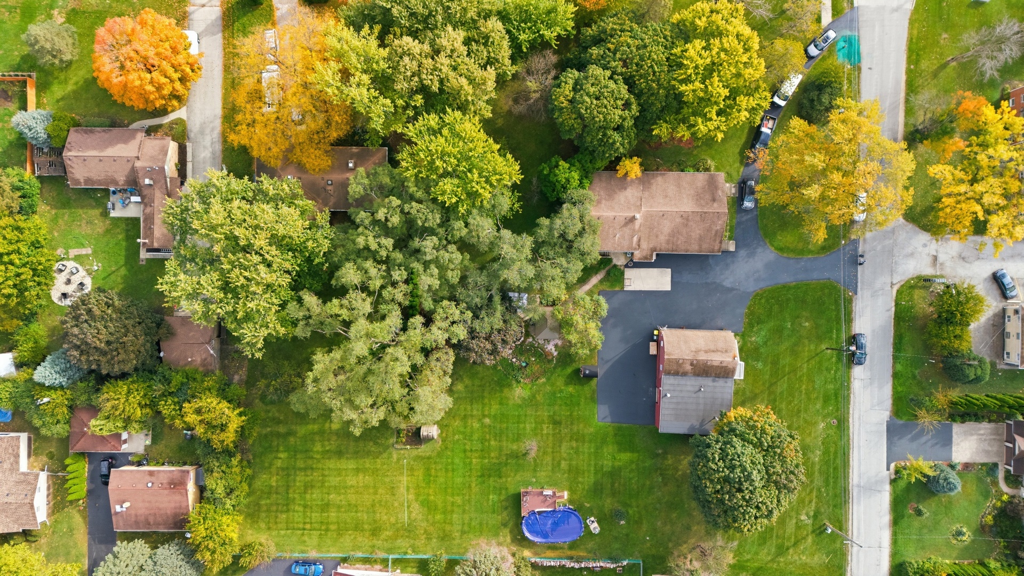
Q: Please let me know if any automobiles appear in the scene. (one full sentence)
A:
Yes, this view includes an automobile.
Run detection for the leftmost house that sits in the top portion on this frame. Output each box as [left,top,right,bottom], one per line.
[63,128,181,264]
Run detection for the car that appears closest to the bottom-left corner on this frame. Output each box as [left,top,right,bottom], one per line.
[98,456,116,486]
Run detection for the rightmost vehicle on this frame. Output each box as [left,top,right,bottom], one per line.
[992,268,1017,300]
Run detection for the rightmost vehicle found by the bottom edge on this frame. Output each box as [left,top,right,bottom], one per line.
[292,560,325,575]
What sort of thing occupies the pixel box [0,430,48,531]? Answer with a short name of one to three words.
house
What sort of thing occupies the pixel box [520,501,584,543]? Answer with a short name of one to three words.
swimming pool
